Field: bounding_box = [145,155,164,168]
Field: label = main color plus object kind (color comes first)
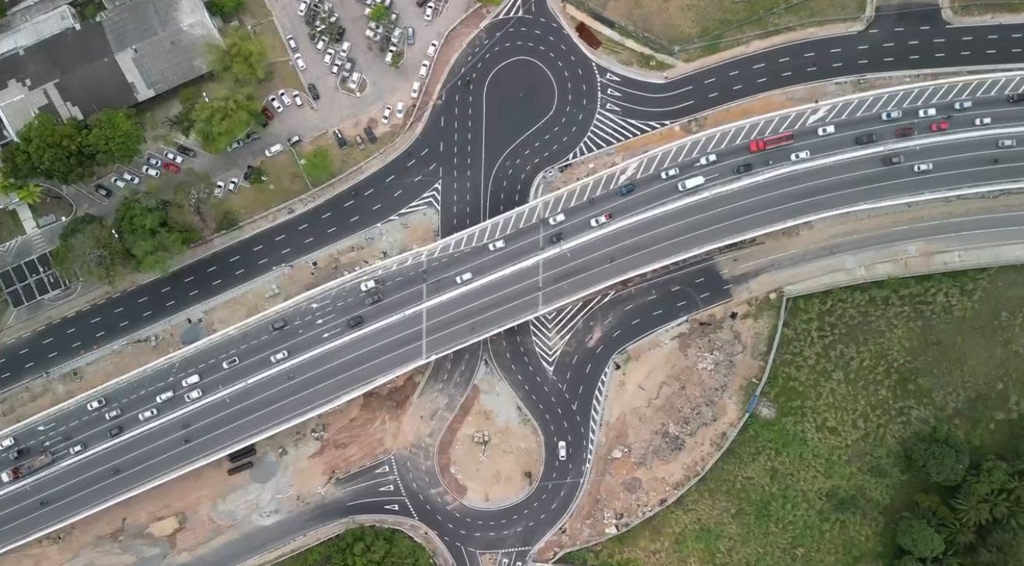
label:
gray vehicle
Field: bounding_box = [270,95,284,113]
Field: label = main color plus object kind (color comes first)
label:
white car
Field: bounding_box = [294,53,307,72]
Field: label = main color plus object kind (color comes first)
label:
white vehicle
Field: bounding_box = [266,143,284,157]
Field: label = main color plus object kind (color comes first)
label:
white car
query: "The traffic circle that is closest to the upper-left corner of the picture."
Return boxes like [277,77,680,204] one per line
[411,0,601,241]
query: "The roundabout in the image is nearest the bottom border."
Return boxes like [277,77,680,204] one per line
[392,257,732,566]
